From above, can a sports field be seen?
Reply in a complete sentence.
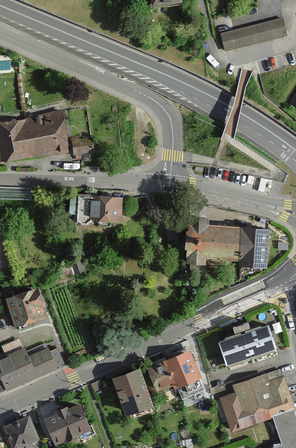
No, this view has no sports field in it.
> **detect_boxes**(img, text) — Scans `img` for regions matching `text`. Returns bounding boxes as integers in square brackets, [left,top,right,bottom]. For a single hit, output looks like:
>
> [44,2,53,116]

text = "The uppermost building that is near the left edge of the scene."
[0,110,69,164]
